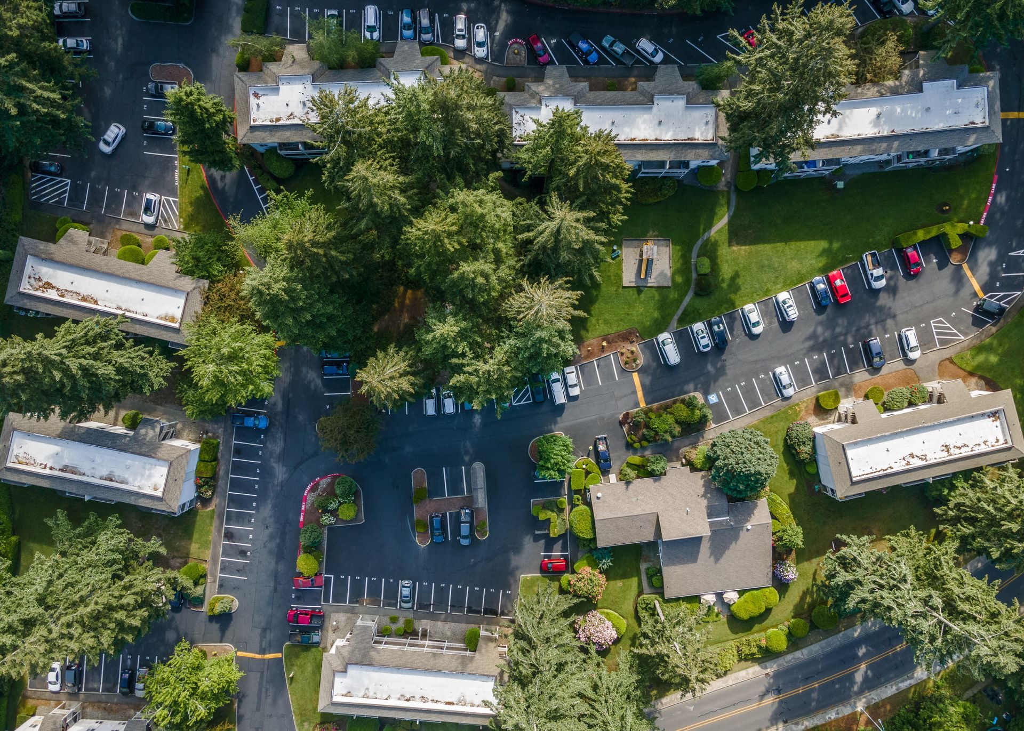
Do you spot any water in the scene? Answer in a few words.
No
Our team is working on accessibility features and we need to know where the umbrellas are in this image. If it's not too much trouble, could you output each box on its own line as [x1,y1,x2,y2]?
[699,593,715,606]
[722,590,738,604]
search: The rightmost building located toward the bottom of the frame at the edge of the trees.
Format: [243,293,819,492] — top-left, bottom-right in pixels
[815,379,1024,503]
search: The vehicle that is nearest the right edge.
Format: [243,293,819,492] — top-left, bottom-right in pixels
[977,296,1009,319]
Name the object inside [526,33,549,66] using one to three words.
car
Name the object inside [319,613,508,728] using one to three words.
building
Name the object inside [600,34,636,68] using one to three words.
truck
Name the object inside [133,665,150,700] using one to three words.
vehicle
